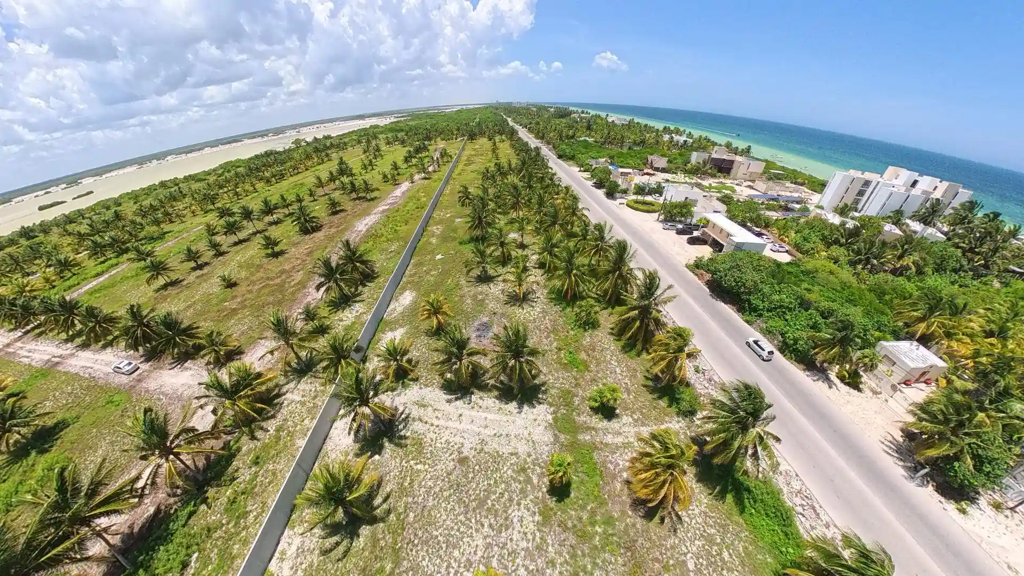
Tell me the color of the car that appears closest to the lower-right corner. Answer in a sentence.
In this view, the car that appears closest to the lower-right corner is white.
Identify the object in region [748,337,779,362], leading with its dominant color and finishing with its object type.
white car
